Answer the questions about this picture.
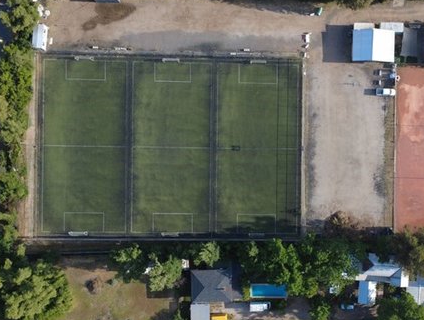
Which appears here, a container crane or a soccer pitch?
soccer pitch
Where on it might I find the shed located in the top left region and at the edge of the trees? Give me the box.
[32,23,53,52]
